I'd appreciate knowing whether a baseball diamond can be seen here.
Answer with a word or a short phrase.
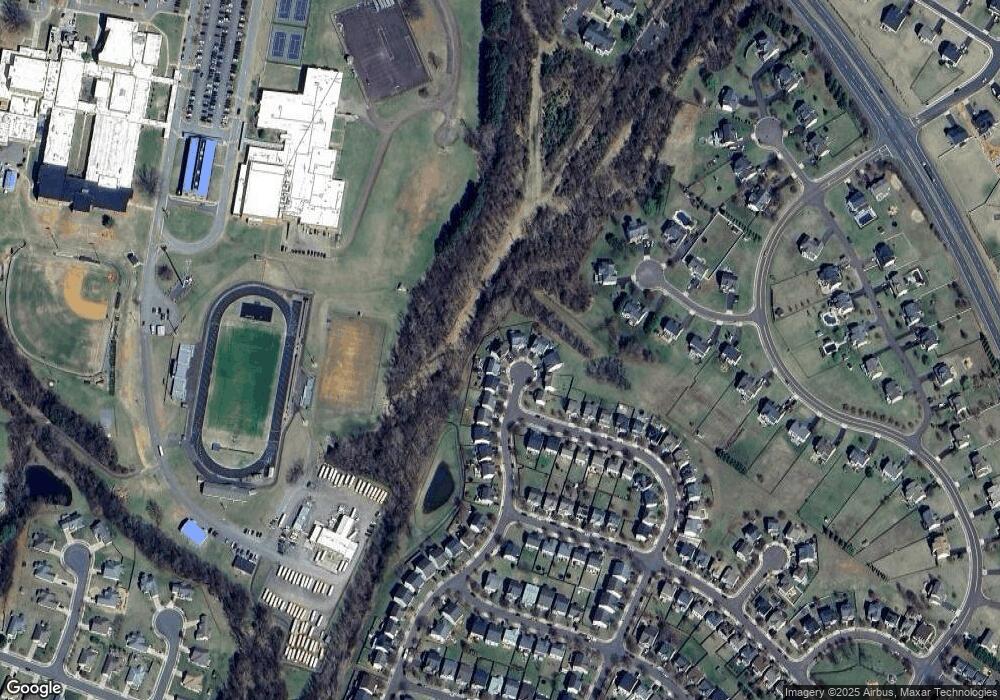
Yes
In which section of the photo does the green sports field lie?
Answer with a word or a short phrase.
left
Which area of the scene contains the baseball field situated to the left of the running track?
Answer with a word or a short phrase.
left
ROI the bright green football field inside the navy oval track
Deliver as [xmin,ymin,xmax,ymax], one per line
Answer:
[207,326,282,434]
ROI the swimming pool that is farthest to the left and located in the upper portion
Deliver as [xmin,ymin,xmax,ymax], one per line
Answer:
[674,209,695,227]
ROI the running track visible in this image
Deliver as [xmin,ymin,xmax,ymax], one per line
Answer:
[192,281,295,478]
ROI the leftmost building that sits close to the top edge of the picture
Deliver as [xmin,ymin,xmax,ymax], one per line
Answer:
[0,18,182,215]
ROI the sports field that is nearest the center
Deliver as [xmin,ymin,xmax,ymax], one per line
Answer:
[317,315,388,416]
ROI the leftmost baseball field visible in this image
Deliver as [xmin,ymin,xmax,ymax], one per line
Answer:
[8,244,116,375]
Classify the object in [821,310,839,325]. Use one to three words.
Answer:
swimming pool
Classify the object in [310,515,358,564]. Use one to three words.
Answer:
building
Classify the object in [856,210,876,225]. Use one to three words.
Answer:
swimming pool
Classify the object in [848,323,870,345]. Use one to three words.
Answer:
house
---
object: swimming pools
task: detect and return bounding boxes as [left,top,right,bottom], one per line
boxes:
[820,342,839,354]
[821,310,839,325]
[674,209,695,227]
[856,210,876,225]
